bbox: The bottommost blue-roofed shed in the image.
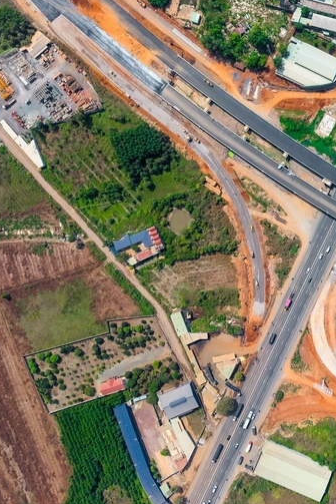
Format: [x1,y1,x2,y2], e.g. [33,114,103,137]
[135,457,170,504]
